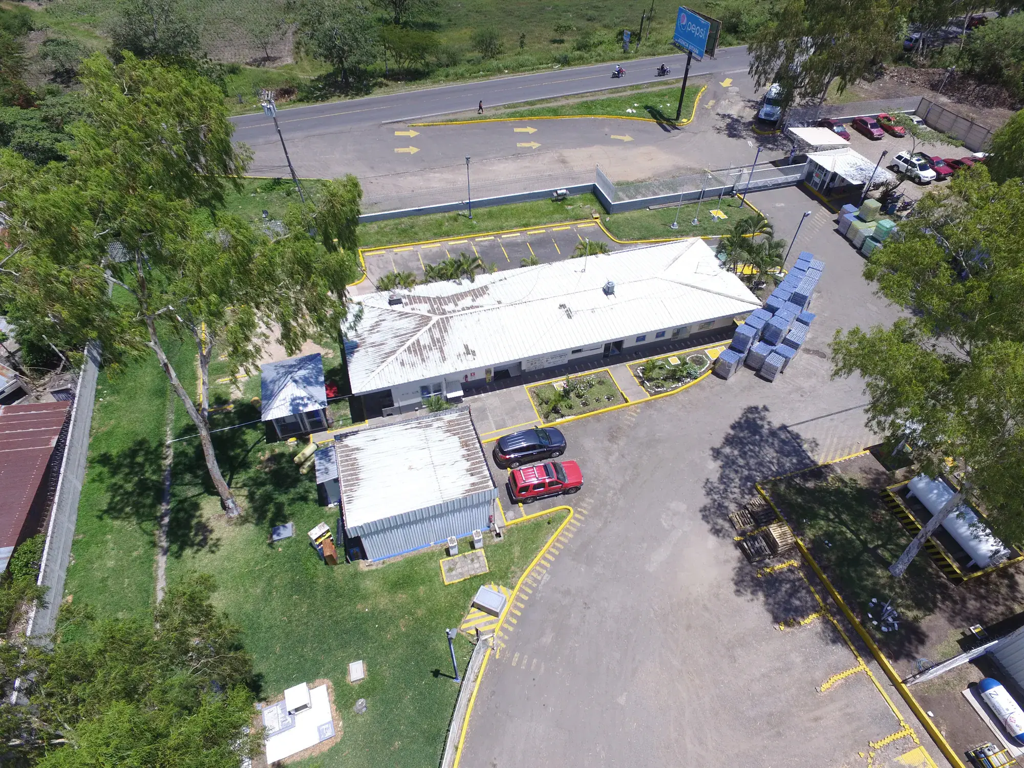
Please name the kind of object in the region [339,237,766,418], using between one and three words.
building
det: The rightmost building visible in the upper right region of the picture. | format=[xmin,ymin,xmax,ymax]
[798,147,895,215]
